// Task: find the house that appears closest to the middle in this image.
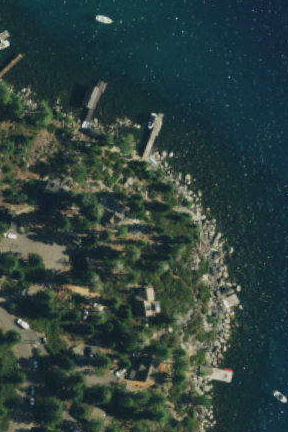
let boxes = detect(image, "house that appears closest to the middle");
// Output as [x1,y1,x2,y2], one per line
[96,194,130,227]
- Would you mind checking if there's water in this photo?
Yes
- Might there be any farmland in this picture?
No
